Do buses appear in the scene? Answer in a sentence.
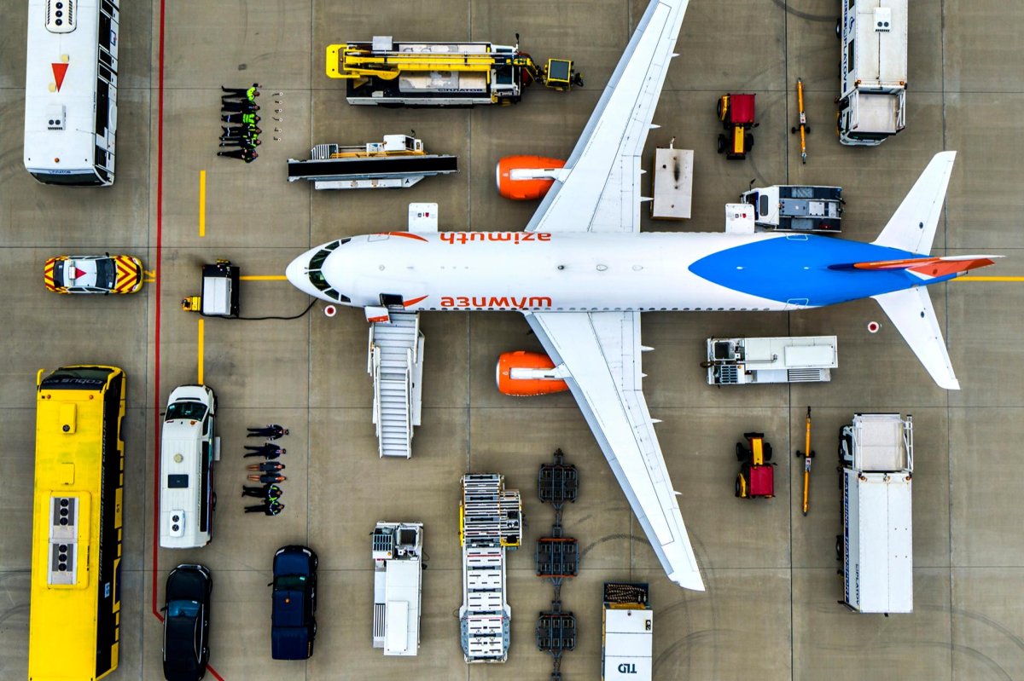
Yes, this view includes a bus.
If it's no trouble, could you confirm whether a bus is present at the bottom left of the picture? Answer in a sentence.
Yes, I can see a bus at the bottom left of the picture.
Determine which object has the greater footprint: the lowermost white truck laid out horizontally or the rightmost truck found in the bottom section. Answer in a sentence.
Compared with the lowermost white truck laid out horizontally, the rightmost truck found in the bottom section is the larger one.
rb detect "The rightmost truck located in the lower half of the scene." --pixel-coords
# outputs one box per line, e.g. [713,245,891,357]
[835,411,913,619]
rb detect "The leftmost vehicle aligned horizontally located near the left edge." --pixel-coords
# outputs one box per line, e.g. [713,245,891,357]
[43,251,144,297]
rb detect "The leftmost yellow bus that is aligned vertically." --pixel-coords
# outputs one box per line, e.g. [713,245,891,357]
[29,361,127,681]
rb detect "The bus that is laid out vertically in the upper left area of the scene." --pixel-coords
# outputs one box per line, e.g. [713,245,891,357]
[26,0,117,187]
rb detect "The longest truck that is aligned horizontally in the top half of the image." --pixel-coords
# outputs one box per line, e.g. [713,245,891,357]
[326,31,584,106]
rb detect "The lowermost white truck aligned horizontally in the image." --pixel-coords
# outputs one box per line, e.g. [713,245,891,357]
[700,336,837,392]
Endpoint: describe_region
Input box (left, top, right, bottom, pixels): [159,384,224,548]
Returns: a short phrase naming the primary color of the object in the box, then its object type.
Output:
white vehicle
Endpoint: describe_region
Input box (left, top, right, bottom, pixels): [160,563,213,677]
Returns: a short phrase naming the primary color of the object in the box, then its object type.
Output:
black car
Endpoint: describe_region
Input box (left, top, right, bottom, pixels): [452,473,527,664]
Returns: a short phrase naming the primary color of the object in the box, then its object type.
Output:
white work vehicle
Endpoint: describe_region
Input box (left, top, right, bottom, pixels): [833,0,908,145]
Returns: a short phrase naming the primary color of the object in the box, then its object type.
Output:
white truck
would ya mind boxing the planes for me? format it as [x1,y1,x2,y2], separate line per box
[286,0,1004,590]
